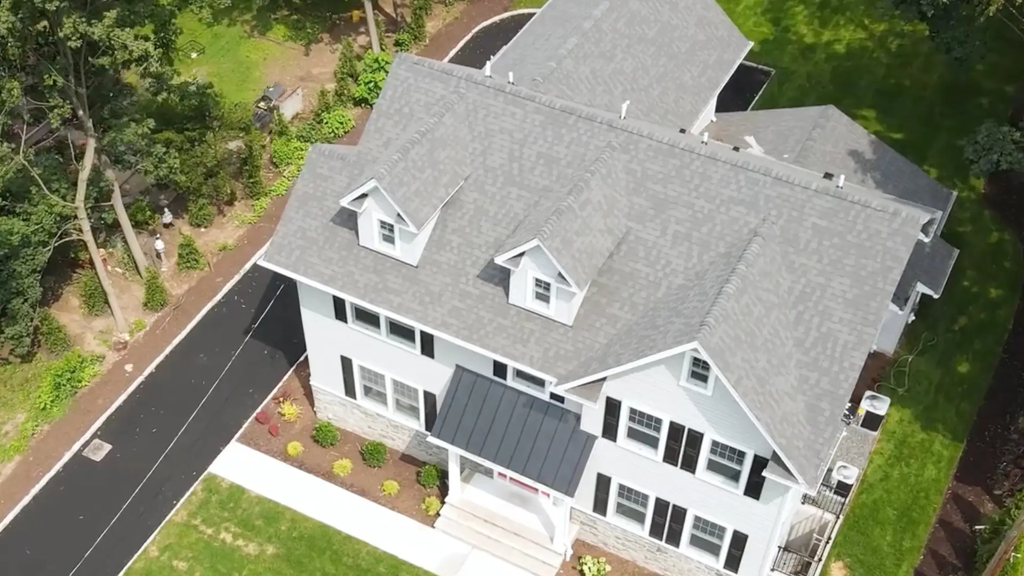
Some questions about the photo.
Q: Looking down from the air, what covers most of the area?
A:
buildings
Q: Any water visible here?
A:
No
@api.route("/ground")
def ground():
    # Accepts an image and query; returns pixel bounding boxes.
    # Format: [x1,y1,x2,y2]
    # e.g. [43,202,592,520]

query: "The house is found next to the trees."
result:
[258,0,958,576]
